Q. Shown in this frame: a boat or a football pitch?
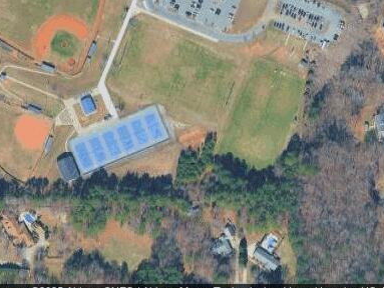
football pitch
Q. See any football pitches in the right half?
Yes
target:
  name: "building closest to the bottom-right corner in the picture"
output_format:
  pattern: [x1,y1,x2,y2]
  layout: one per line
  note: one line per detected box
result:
[253,247,282,272]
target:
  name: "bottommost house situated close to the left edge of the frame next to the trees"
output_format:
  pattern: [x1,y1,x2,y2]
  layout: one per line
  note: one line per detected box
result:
[0,213,33,249]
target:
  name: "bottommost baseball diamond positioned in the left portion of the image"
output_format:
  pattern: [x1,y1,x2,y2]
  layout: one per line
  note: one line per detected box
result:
[0,99,55,183]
